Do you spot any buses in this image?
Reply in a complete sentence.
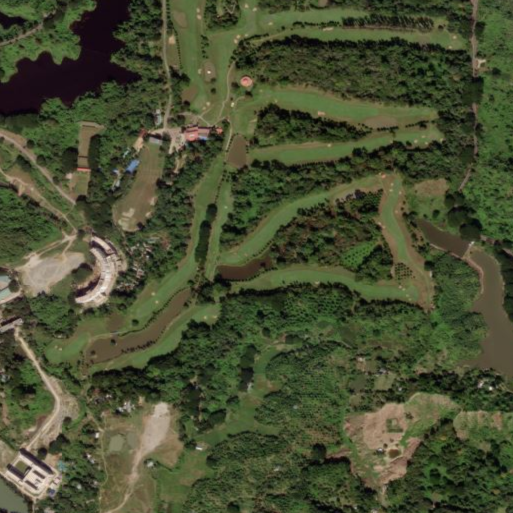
No, the scene contains no bus.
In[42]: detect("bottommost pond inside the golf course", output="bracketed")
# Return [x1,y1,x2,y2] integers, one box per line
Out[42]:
[85,288,193,363]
